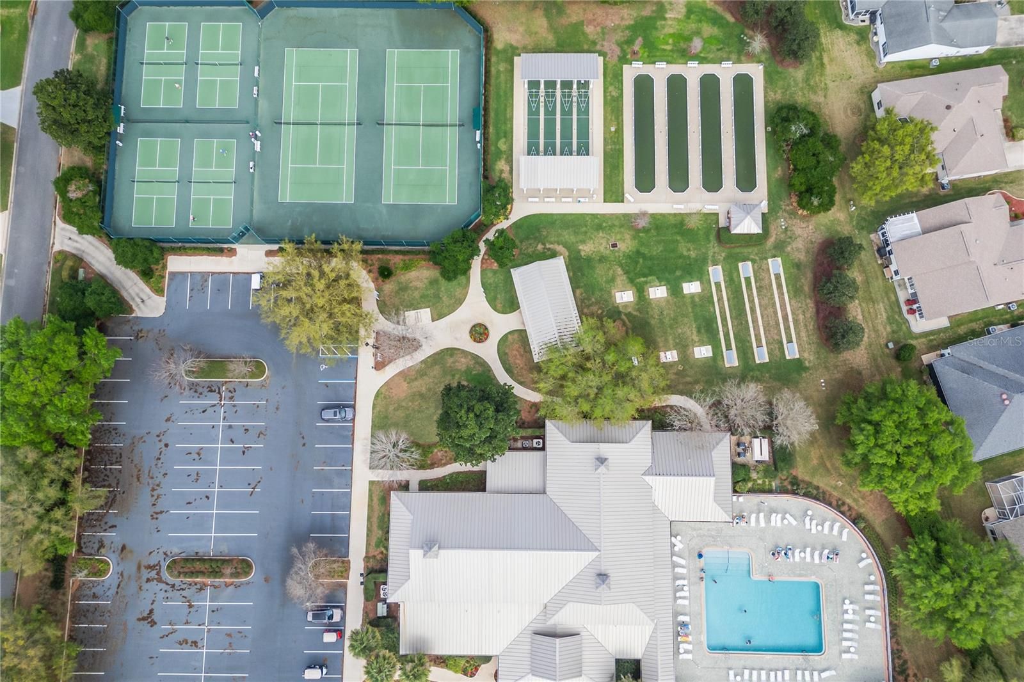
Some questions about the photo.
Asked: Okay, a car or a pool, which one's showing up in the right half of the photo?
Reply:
pool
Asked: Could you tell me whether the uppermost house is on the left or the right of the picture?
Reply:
right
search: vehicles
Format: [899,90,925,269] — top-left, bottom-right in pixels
[320,632,340,645]
[303,666,323,681]
[248,271,262,289]
[304,608,344,628]
[318,405,354,423]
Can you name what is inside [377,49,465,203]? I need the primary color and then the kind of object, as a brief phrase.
green tennis court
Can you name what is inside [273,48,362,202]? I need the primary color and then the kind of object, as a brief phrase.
green tennis court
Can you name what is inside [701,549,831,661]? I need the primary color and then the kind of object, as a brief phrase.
blue swimming pool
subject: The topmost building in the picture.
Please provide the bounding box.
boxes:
[847,0,999,64]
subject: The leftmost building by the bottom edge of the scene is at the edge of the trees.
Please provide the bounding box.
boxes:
[386,420,733,682]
